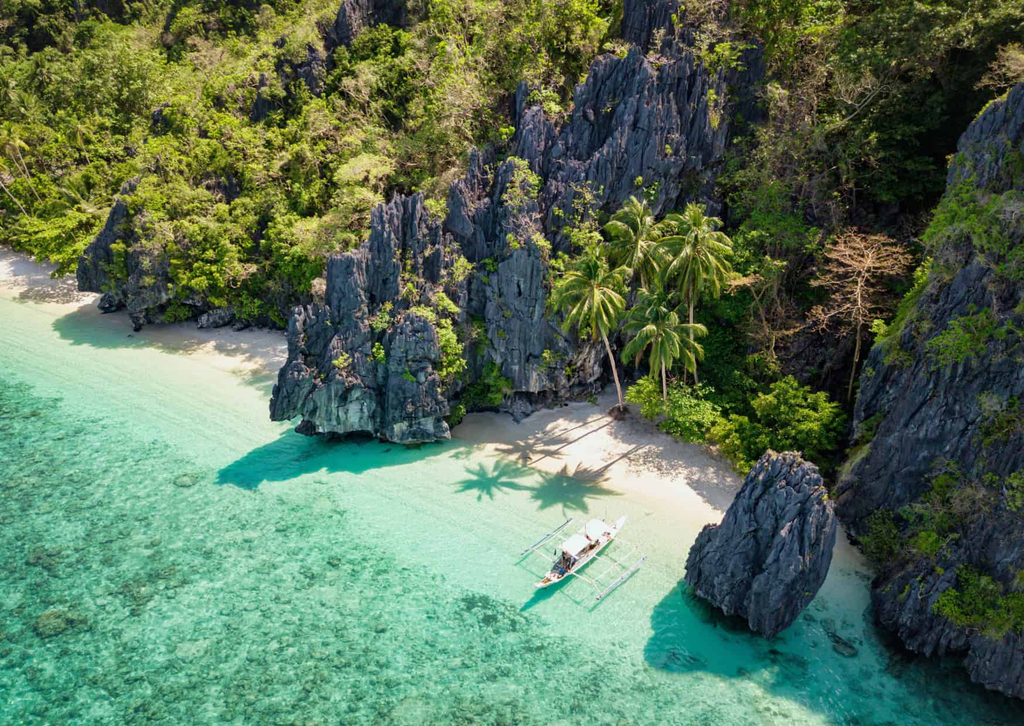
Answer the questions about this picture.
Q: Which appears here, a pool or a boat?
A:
boat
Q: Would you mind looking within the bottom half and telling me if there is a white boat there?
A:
Yes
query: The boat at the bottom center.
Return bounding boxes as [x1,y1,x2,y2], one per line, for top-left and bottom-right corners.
[519,492,650,599]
